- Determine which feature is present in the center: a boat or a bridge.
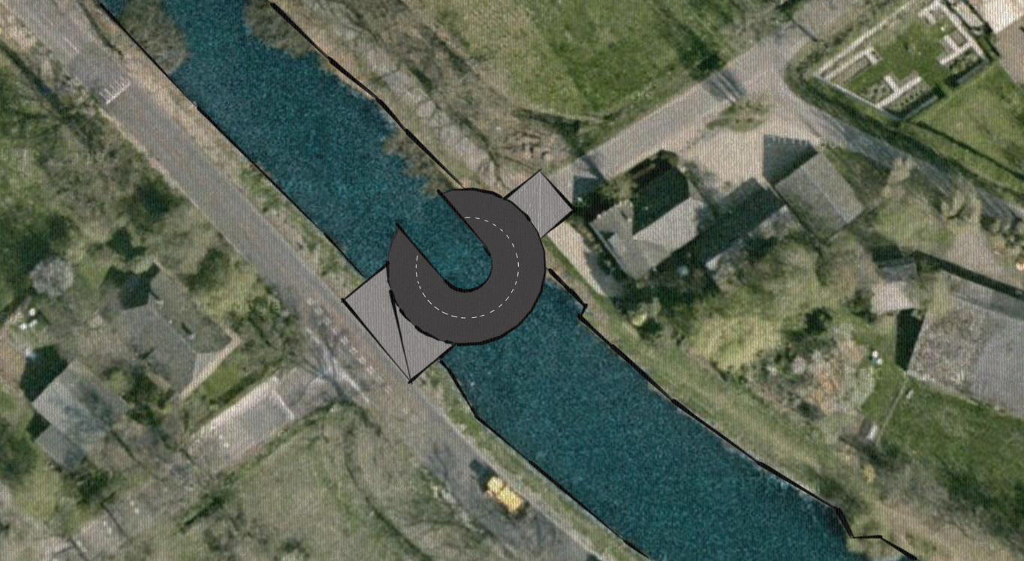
bridge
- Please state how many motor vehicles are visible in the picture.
1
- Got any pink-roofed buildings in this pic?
No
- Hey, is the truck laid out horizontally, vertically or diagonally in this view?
diagonally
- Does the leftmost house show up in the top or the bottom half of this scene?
bottom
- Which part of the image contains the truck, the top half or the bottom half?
bottom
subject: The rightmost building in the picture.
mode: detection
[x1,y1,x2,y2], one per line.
[909,299,1024,421]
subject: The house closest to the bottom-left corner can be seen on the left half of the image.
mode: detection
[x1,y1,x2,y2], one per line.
[31,360,125,469]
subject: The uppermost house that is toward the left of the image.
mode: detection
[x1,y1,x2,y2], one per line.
[115,271,230,394]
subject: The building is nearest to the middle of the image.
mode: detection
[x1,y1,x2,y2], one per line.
[591,175,701,279]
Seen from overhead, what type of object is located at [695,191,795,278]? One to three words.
barn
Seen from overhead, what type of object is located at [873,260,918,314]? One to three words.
shed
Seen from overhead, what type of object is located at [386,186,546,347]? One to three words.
bridge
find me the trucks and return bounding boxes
[481,475,525,519]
